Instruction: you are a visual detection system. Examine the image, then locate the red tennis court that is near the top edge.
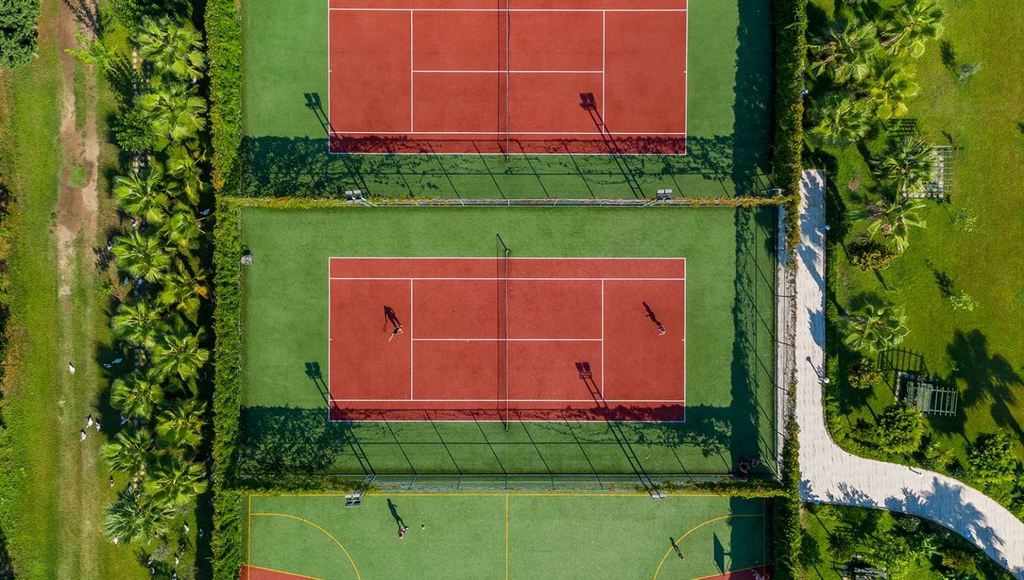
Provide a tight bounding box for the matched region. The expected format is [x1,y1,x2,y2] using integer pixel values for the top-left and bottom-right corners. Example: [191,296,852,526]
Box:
[241,0,775,204]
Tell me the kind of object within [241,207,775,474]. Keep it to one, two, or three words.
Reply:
tennis court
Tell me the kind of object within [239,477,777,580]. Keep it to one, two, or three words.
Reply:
basketball court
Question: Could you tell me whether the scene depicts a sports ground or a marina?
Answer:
sports ground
